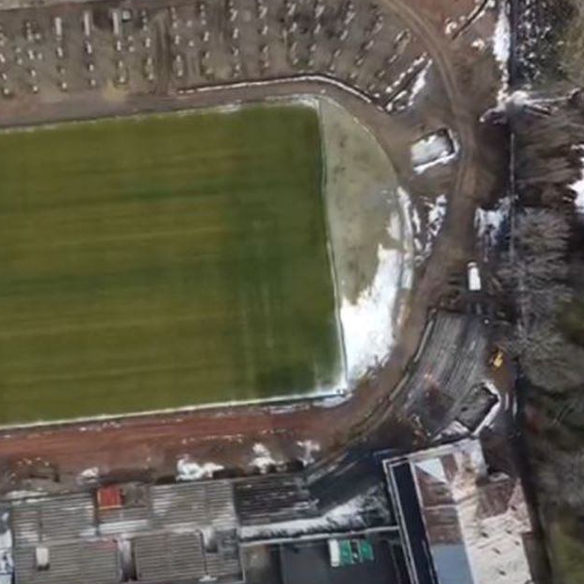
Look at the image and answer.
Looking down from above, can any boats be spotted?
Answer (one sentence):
No, there's no boat here.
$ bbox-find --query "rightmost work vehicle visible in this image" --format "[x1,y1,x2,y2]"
[490,342,508,364]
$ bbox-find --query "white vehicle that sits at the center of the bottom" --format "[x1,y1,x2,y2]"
[329,541,342,565]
